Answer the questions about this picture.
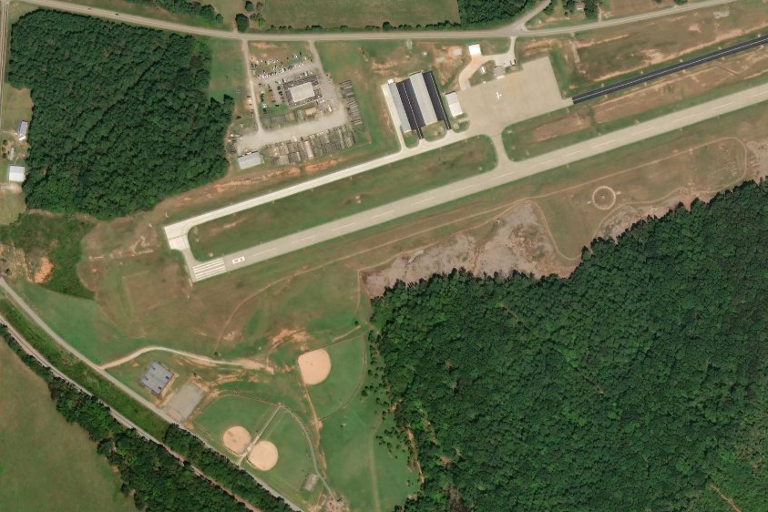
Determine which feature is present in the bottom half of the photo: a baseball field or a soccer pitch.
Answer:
baseball field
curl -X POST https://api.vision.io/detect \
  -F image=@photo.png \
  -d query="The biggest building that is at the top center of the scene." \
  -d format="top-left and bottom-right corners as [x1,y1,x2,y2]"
[410,73,438,125]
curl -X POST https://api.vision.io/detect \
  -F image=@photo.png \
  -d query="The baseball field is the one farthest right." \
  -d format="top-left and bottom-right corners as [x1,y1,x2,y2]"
[299,336,367,427]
